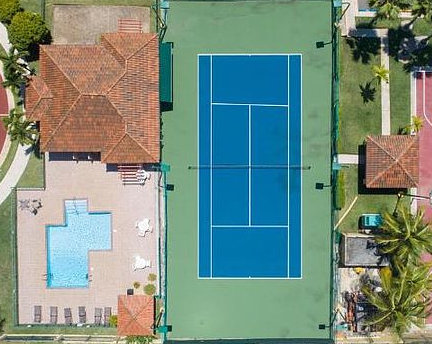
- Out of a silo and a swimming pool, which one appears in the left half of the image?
swimming pool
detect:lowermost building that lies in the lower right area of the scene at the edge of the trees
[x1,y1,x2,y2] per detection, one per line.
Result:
[342,234,386,266]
